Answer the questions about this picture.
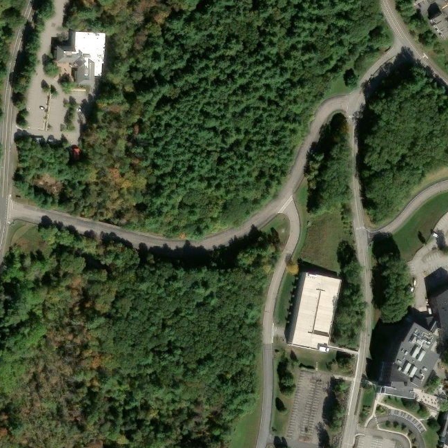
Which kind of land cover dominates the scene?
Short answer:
trees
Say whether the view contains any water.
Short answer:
No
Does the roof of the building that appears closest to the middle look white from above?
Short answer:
Yes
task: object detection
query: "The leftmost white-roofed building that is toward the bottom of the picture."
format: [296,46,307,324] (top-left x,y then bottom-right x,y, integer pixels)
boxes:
[287,272,342,351]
